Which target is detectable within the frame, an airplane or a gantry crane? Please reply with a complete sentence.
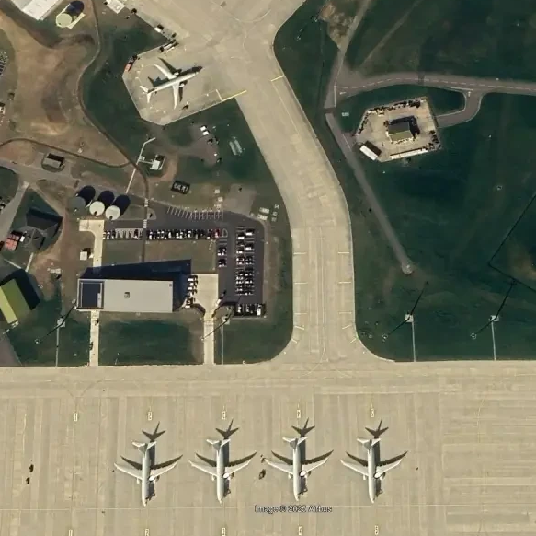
This aerial view contains an airplane.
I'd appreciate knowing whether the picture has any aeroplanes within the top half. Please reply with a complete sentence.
Yes, you'll find an aeroplane within the top half.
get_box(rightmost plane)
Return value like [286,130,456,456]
[338,436,404,501]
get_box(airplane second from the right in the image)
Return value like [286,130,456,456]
[265,435,329,500]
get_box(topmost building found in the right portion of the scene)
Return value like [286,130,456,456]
[388,118,416,141]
